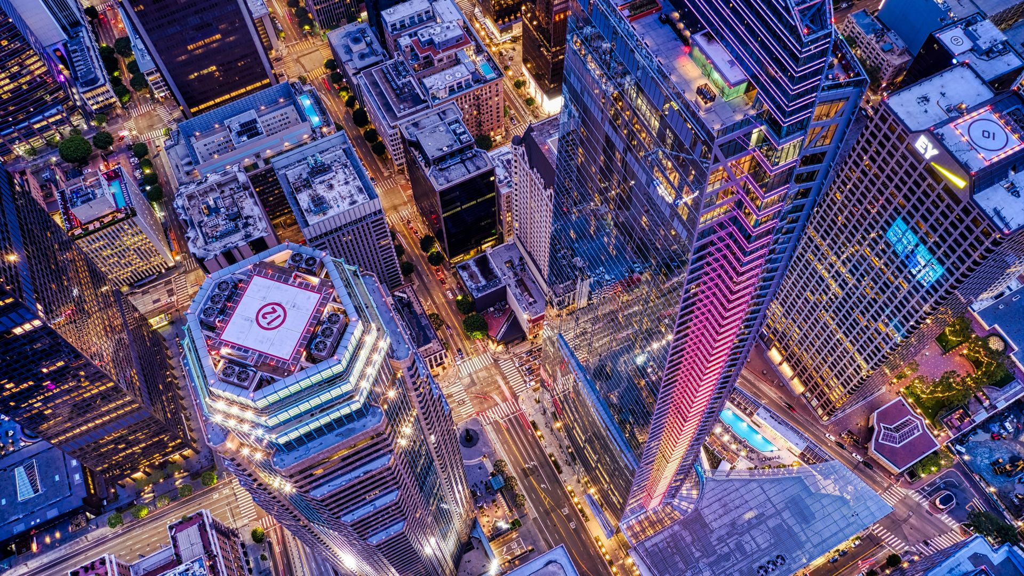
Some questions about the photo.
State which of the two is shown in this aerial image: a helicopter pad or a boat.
helicopter pad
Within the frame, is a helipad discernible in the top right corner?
Yes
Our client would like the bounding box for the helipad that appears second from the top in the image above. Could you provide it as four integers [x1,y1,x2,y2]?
[952,109,1022,164]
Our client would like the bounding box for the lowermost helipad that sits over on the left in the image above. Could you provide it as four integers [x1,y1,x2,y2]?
[216,271,324,364]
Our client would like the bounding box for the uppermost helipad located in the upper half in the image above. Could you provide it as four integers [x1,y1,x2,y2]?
[933,27,970,64]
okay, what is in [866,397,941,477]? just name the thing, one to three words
building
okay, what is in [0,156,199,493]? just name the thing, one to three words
building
